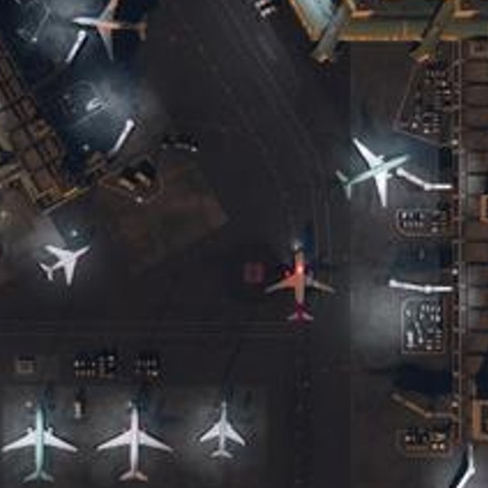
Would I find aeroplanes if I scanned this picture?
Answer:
Yes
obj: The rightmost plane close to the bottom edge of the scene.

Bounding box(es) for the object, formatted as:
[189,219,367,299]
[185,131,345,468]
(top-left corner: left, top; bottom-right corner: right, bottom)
[199,403,247,467]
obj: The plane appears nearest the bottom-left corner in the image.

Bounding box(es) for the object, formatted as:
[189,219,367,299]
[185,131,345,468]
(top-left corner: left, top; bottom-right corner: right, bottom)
[0,408,77,486]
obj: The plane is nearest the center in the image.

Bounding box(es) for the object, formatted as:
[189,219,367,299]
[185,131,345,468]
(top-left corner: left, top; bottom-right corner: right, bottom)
[265,250,336,322]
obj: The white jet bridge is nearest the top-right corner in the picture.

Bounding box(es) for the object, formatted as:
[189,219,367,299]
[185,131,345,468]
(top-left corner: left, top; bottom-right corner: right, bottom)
[395,166,450,190]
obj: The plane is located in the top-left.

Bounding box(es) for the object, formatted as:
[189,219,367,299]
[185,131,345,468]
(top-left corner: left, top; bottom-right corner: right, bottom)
[73,0,149,60]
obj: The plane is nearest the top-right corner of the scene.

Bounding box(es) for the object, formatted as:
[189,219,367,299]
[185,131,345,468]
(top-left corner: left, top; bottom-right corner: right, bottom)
[335,138,408,205]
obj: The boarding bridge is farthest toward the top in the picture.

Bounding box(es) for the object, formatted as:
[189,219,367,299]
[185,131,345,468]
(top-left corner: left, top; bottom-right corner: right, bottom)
[52,28,88,76]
